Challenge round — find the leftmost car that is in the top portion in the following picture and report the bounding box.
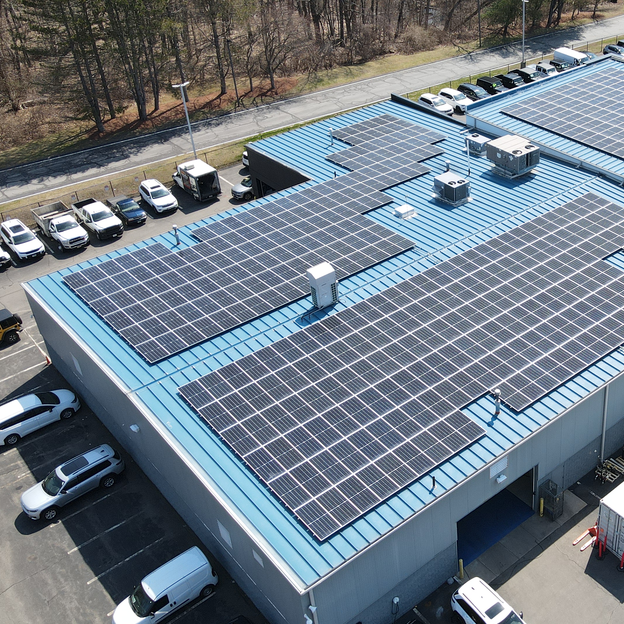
[6,221,51,263]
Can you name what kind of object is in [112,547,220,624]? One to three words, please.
van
